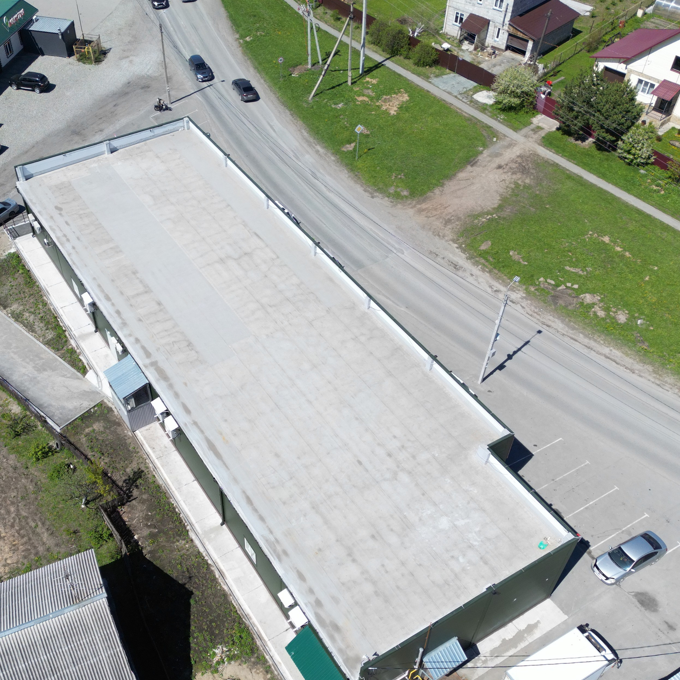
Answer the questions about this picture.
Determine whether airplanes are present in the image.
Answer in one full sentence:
No, no airplane is visible in the scene.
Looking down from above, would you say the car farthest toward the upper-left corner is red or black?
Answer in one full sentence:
From above, the car farthest toward the upper-left corner appears black.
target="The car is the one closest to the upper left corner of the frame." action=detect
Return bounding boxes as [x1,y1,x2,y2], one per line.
[7,70,50,93]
